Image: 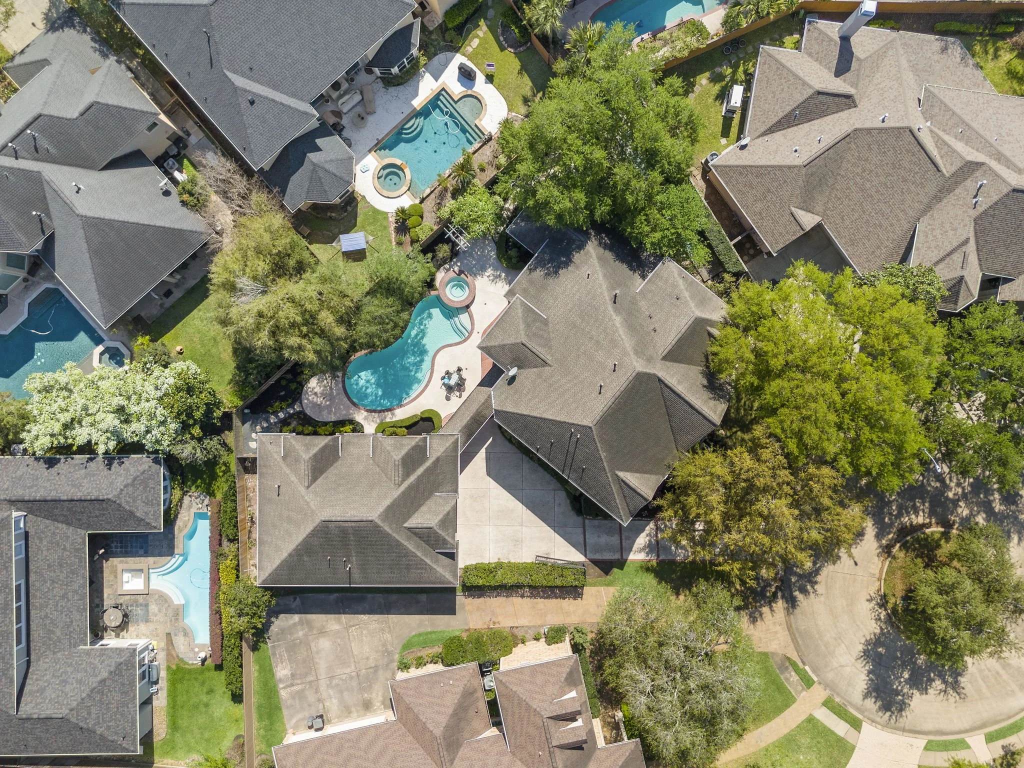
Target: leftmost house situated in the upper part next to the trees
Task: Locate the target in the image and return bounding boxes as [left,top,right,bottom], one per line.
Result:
[0,6,217,330]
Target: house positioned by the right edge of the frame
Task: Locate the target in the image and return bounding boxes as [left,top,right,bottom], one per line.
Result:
[707,0,1024,313]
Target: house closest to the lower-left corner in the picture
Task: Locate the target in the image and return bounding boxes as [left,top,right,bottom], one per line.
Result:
[0,453,187,757]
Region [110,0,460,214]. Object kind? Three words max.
house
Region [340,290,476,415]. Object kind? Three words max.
swimming pool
